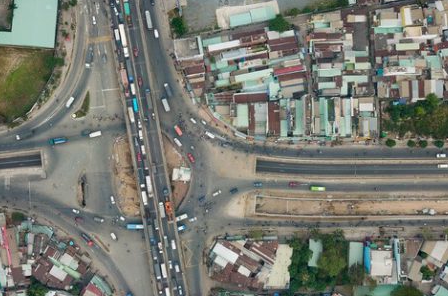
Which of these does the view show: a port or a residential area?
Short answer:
residential area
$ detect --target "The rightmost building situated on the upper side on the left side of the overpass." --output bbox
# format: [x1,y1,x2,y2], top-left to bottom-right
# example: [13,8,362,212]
[14,0,59,51]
